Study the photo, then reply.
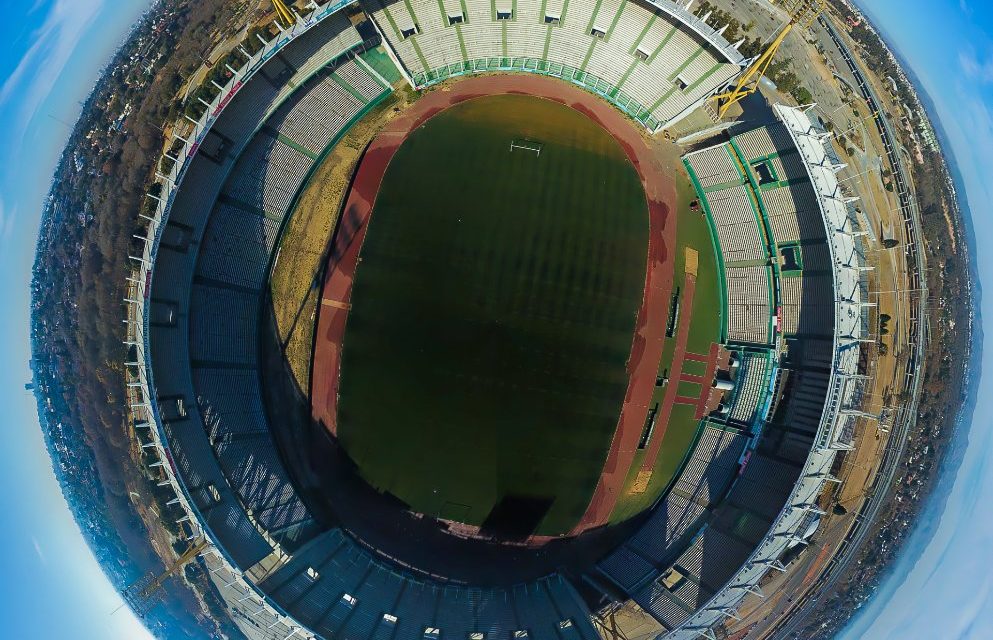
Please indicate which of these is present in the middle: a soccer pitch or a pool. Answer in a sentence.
You can see a soccer pitch in the middle.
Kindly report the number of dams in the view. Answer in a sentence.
No dams are visible.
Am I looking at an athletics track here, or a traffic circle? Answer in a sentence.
It is an athletics track that can be seen here.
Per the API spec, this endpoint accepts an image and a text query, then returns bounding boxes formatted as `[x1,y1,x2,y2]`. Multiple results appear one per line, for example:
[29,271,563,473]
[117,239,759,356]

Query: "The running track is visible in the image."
[308,73,677,571]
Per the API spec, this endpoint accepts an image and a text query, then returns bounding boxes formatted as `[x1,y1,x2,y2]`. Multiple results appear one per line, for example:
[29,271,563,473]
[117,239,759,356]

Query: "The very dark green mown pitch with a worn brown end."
[336,95,651,540]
